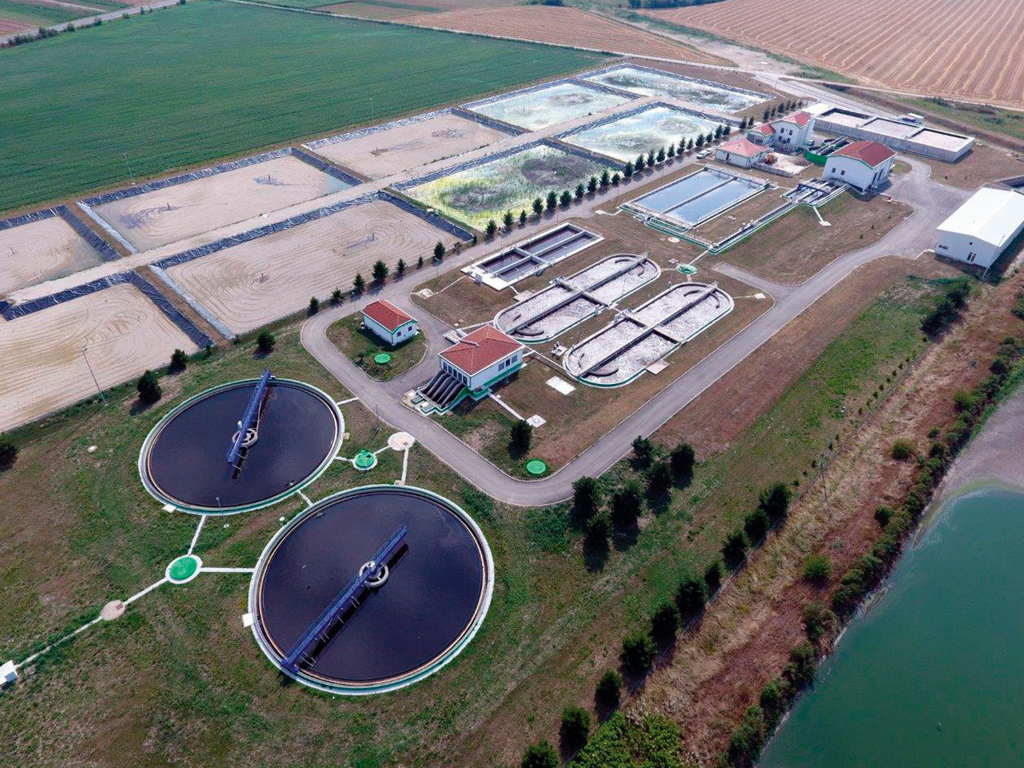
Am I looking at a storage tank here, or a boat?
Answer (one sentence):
I can see a storage tank in this picture.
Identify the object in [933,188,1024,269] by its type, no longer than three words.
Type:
building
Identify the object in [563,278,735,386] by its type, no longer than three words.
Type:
storage tank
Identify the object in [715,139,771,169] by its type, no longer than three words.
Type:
house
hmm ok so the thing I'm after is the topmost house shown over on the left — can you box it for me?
[360,299,421,345]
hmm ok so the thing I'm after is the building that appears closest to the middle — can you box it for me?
[398,322,528,419]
